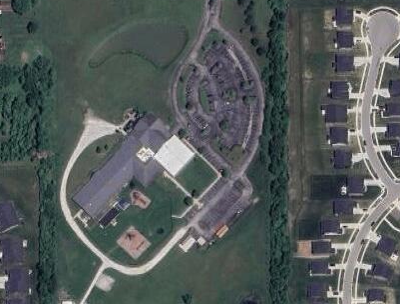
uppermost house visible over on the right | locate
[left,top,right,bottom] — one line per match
[336,5,354,27]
